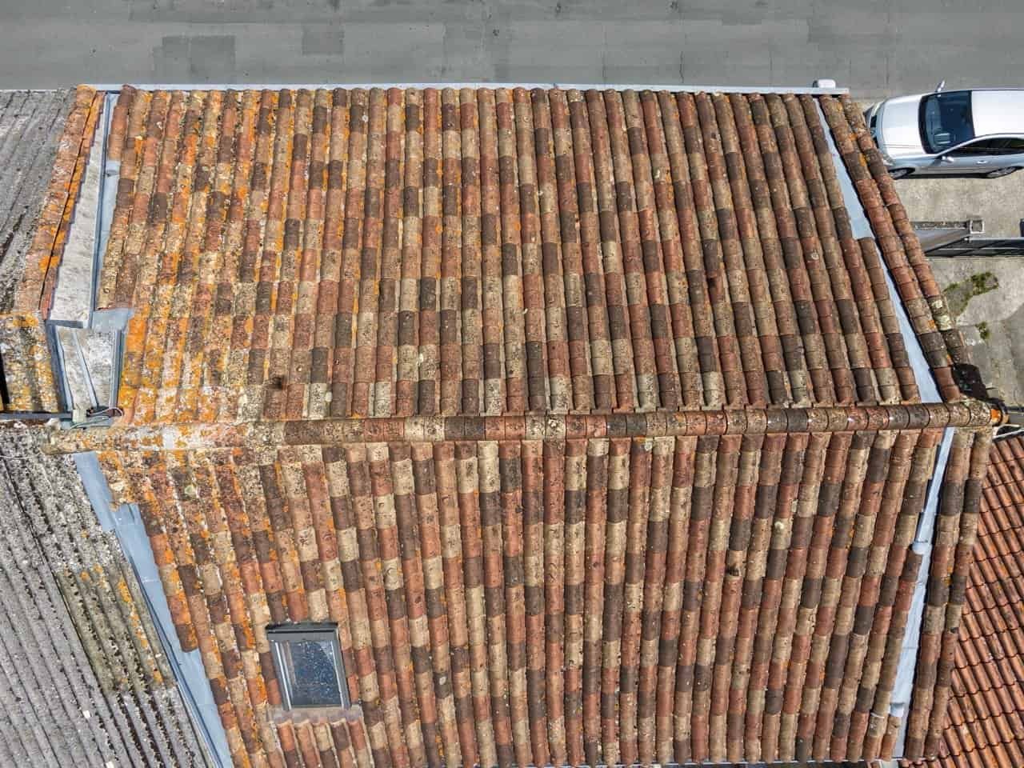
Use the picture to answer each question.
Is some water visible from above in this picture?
No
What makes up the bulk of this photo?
buildings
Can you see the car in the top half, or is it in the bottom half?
top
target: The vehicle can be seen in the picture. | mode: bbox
[860,85,1024,176]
